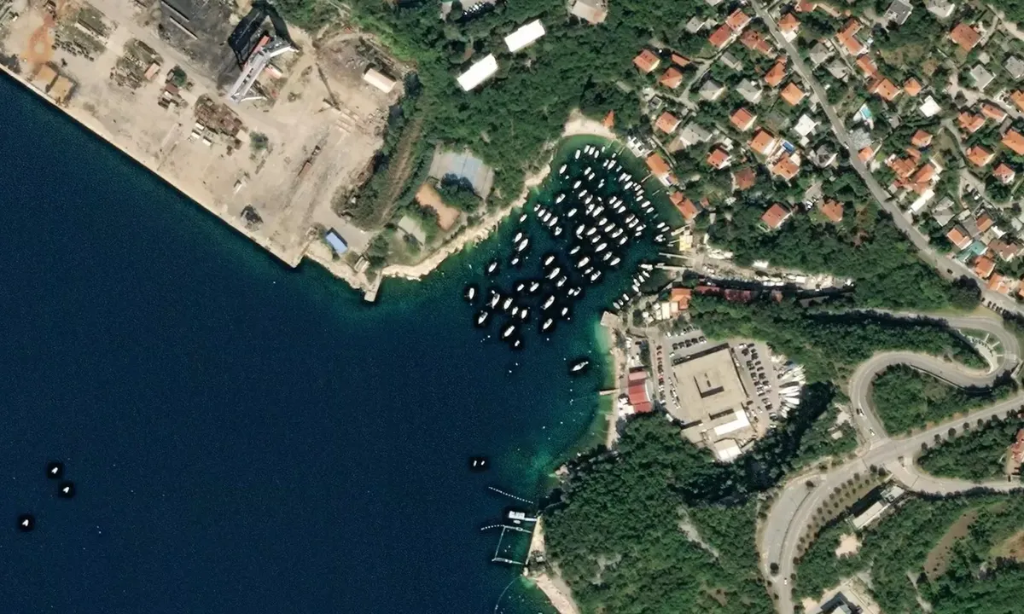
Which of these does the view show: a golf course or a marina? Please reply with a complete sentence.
This looks like a marina.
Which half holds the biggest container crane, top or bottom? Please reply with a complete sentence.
You can find the biggest container crane in the top half.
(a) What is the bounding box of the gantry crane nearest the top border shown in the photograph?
[227,32,303,103]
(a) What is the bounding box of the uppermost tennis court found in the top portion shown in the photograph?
[427,150,494,201]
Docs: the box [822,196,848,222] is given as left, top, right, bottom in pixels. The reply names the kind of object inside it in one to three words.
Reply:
house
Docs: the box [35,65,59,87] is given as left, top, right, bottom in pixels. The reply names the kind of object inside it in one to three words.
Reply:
shed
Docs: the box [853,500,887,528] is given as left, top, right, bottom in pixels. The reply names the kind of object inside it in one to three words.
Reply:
building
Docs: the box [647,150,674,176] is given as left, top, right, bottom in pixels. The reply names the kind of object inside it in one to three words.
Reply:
house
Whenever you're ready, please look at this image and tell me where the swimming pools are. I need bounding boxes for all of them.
[780,138,797,154]
[858,104,874,121]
